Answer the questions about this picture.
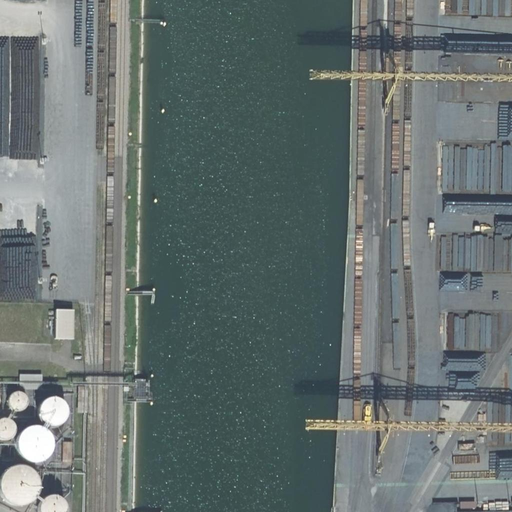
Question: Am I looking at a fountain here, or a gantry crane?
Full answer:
Looking from above, you can make out a gantry crane.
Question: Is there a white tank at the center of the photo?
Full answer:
No, I see no white tank at the center of the photo.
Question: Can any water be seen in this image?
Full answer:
Yes, some water is visible.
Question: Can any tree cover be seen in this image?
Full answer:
No, the picture contains no tree cover.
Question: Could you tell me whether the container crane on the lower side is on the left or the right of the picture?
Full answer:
The container crane on the lower side sits on the right side.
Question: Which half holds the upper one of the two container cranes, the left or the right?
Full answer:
You can find the upper one of the two container cranes on the right side of the picture.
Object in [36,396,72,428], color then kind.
white storage tank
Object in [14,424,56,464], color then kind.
white storage tank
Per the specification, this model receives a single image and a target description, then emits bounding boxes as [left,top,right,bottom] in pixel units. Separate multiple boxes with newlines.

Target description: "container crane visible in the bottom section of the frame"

[304,385,512,476]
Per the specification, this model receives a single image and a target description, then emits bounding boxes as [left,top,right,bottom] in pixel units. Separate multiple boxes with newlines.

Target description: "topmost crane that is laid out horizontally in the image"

[309,37,512,118]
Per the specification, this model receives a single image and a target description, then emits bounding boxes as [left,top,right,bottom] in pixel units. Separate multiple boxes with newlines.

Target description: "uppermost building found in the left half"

[54,309,75,339]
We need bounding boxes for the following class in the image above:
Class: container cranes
[304,385,512,476]
[309,37,512,118]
